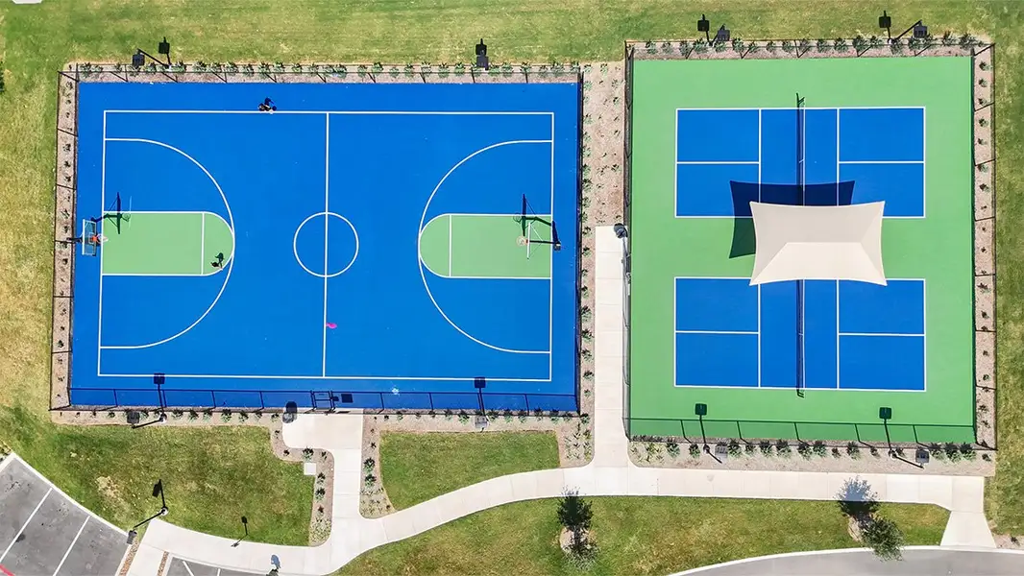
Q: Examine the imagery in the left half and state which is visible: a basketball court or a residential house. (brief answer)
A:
basketball court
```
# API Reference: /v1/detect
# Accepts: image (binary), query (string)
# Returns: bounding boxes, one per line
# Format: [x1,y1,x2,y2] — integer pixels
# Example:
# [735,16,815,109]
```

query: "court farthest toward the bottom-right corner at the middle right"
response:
[674,277,925,391]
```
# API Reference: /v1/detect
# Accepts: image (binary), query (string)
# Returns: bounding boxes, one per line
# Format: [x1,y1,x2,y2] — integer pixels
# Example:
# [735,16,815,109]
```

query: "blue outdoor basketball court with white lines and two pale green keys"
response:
[72,83,580,412]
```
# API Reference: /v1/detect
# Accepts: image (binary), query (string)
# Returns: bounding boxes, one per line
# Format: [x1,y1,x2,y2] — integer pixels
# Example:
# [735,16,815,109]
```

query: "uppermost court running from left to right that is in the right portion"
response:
[675,108,926,218]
